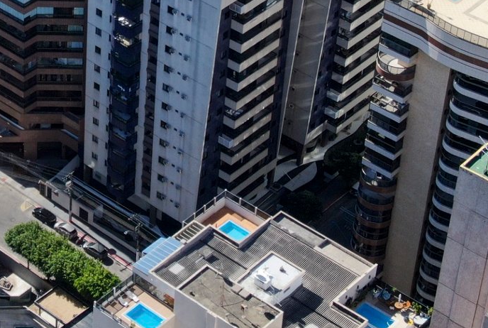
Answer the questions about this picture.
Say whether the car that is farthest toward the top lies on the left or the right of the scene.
left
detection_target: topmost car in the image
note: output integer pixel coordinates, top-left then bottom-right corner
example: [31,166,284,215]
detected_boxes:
[31,203,59,223]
